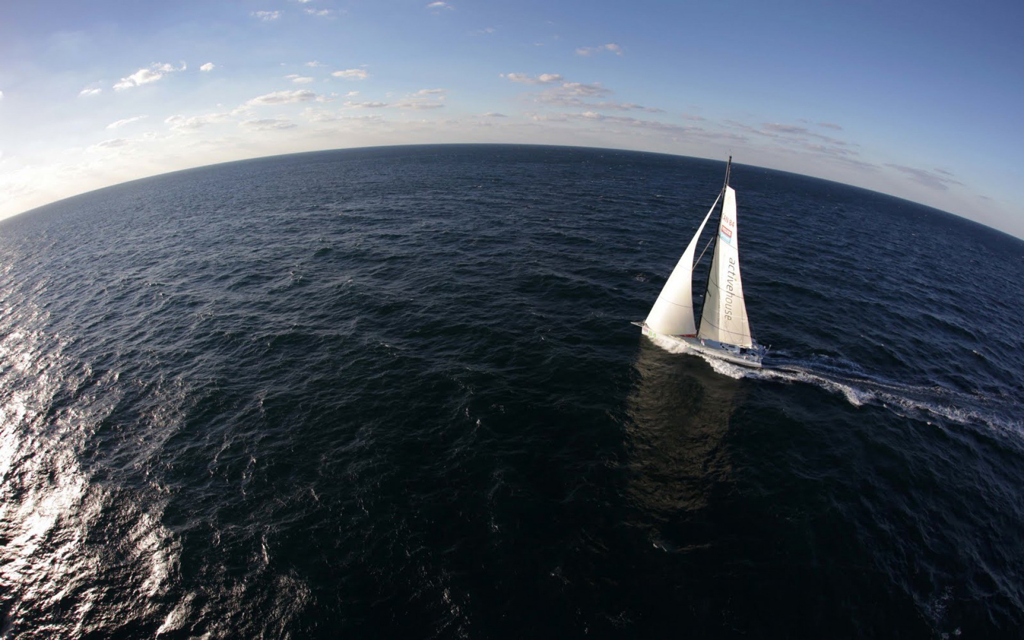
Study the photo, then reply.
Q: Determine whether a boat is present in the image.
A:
Yes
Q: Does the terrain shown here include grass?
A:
No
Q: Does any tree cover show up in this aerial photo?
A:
No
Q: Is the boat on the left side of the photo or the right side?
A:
right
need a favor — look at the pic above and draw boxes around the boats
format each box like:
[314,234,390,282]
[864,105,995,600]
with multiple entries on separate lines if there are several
[631,146,771,367]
